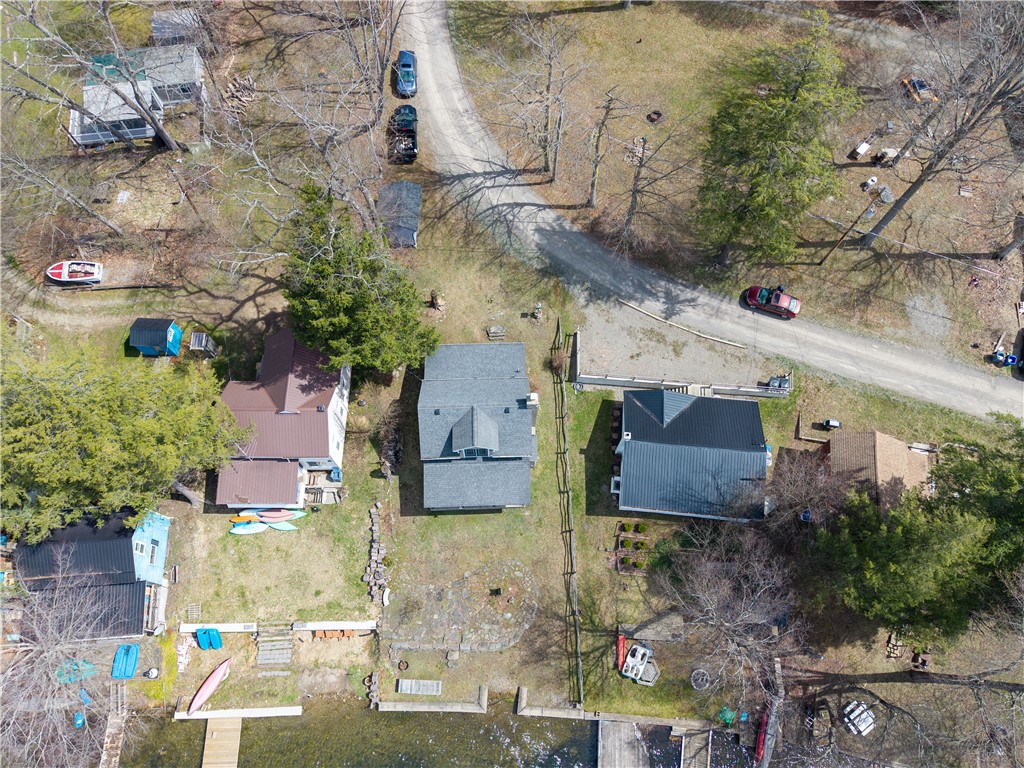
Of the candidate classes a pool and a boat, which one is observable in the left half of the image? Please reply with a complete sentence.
It is a boat that can be seen in the left half of the image.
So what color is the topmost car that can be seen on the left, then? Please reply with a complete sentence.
The color of the topmost car that can be seen on the left is blue.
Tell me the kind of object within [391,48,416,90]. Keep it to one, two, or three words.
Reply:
car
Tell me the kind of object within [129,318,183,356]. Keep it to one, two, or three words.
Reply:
shed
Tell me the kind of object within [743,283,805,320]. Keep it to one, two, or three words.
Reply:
car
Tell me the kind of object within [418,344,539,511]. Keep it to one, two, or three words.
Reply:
house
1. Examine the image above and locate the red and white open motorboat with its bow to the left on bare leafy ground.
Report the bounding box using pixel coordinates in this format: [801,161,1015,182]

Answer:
[42,257,102,281]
